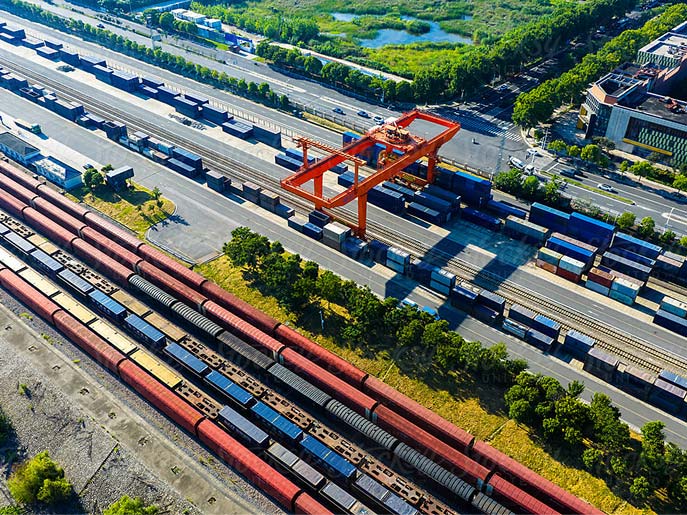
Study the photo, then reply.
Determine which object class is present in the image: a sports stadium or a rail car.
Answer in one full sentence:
There is a rail car in the scene.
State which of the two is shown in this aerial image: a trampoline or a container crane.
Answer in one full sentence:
There is a container crane in the scene.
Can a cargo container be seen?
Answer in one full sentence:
Yes, the image includes a cargo container.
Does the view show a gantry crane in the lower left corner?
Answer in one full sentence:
No, I see no gantry crane in the lower left corner.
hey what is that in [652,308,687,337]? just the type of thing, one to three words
shipping container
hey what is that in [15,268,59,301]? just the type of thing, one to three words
rail car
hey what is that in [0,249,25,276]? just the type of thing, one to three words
rail car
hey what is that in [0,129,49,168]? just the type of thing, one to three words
house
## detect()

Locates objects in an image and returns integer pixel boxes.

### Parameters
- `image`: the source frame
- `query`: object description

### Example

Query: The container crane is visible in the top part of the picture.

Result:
[282,108,459,242]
